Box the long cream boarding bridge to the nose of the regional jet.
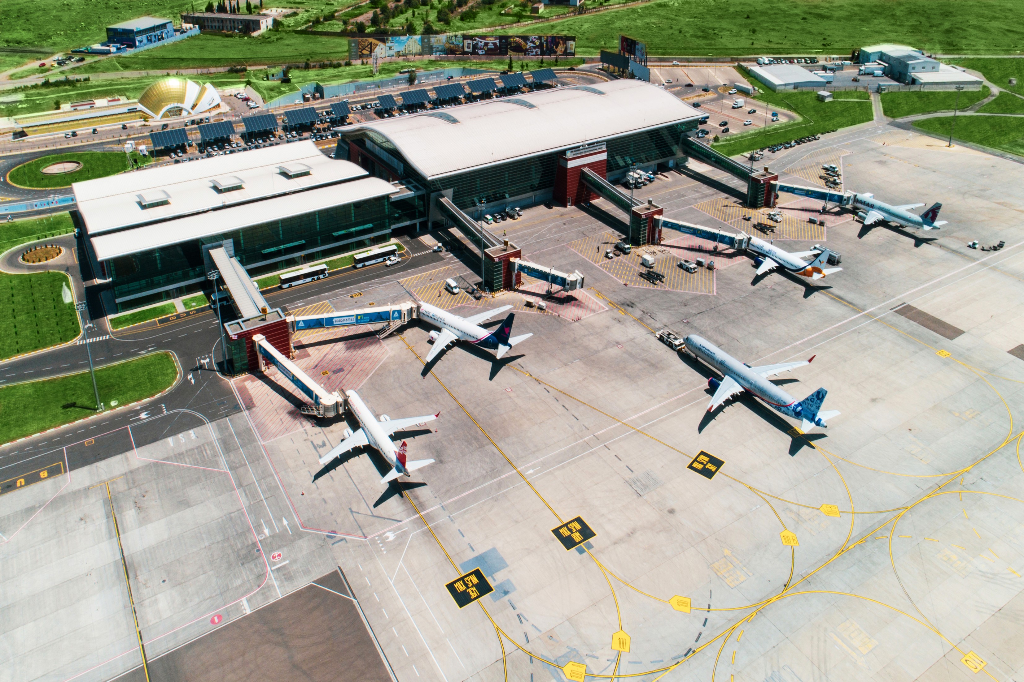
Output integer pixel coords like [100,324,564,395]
[252,334,350,417]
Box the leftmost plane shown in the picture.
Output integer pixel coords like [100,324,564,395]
[316,387,441,486]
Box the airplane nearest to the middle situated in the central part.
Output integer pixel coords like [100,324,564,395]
[413,299,530,361]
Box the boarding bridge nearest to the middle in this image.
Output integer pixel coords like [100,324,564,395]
[511,257,584,299]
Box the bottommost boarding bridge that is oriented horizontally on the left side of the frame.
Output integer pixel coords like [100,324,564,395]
[287,296,418,355]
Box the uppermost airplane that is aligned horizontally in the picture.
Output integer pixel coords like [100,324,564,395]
[853,190,949,229]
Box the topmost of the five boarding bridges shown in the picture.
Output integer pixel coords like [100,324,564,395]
[772,180,856,216]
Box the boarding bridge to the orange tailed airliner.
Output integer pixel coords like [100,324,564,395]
[656,214,746,258]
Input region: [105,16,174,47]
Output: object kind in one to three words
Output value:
building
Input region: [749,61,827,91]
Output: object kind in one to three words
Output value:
building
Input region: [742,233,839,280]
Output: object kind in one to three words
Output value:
airplane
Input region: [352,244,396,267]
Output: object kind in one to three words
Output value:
bus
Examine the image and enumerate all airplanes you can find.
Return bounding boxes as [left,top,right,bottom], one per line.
[413,299,530,361]
[853,190,949,229]
[742,233,839,280]
[681,332,838,431]
[316,387,441,486]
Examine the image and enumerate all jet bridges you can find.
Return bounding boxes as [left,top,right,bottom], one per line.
[511,257,584,299]
[252,334,350,417]
[656,214,746,258]
[772,180,856,216]
[287,296,418,355]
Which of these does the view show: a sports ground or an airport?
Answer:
airport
